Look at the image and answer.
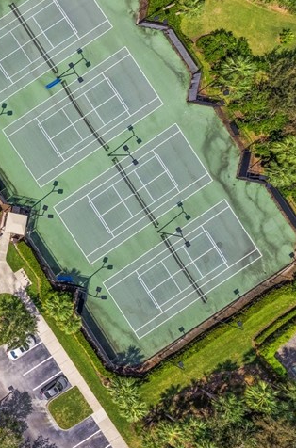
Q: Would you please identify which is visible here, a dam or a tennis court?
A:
tennis court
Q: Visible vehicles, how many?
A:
two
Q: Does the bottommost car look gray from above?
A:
Yes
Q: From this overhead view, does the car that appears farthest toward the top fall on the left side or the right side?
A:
left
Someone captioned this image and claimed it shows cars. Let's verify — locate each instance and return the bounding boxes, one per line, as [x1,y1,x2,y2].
[37,372,66,396]
[8,335,38,359]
